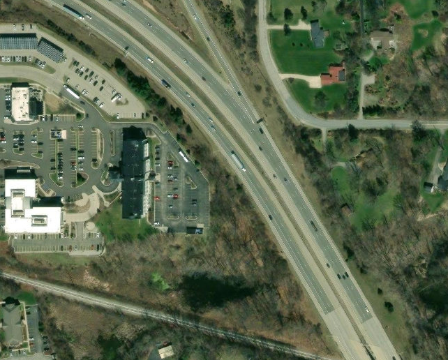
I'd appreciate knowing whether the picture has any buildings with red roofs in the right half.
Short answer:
Yes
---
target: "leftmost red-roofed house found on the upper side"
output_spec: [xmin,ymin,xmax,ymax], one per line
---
[320,65,346,85]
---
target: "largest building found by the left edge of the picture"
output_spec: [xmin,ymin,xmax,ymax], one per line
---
[4,179,64,232]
